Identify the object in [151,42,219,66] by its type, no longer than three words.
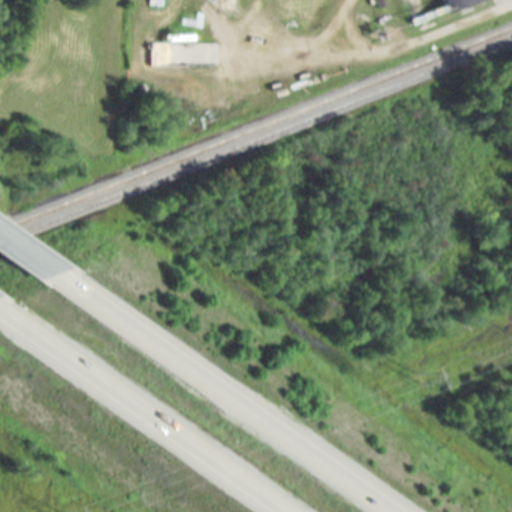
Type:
barn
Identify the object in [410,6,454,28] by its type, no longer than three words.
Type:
house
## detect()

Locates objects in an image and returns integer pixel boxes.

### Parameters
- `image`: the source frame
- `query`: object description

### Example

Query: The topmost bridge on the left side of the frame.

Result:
[0,212,84,285]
